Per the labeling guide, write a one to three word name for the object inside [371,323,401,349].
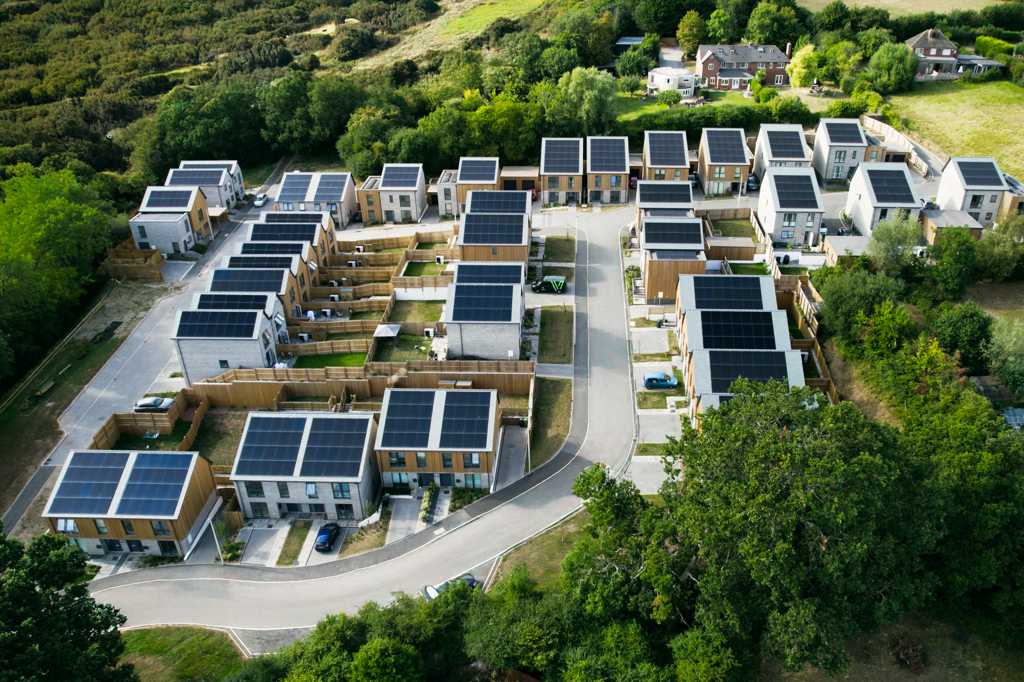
gazebo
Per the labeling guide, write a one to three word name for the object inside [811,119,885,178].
house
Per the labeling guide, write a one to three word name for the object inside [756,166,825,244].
house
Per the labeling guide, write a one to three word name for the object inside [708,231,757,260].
shed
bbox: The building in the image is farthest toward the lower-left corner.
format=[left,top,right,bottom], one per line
[41,448,218,554]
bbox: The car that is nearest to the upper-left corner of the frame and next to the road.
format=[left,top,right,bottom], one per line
[254,191,269,203]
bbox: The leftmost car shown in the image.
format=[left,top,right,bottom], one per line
[131,393,175,412]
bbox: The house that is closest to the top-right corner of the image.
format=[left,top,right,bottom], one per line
[897,25,1002,76]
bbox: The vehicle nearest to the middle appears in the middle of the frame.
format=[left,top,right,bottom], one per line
[532,273,568,291]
